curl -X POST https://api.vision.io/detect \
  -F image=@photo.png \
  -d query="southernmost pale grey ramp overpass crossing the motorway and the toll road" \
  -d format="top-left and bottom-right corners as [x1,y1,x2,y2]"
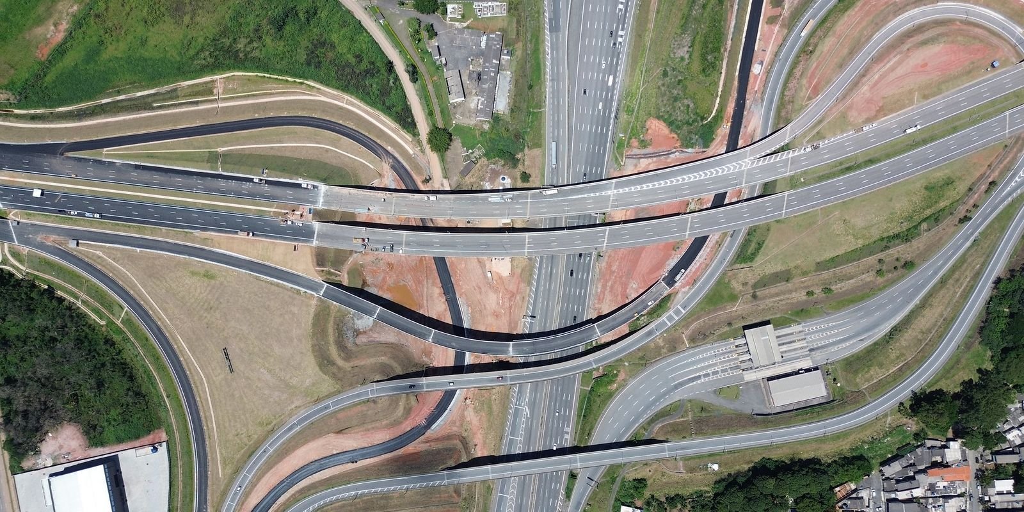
[445,443,668,485]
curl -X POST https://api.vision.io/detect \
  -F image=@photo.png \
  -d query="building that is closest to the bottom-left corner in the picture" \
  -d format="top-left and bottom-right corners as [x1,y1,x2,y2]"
[41,460,125,512]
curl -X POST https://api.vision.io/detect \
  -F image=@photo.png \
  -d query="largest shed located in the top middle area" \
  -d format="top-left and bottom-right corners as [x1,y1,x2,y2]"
[477,32,502,120]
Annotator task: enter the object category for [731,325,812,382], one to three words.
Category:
toll station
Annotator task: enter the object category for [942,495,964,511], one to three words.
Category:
house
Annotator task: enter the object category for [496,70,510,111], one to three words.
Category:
shed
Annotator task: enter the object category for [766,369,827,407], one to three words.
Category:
building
